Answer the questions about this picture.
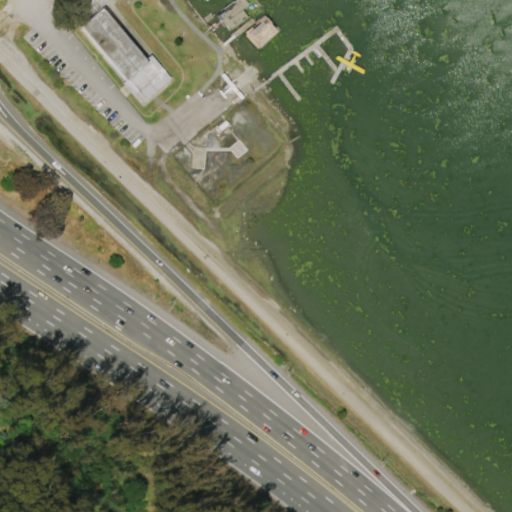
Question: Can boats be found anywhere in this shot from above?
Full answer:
Yes, the image includes a boat.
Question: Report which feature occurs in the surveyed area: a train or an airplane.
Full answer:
It is an airplane that can be seen here.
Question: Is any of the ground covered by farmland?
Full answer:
No, the picture contains no farmland.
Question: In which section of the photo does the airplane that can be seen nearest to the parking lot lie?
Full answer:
You can find the airplane that can be seen nearest to the parking lot in the top area of the picture.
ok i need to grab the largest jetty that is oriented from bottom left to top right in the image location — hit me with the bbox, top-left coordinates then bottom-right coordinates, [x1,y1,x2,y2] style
[254,26,356,102]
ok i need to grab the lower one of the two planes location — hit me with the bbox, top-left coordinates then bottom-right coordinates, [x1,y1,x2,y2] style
[220,72,246,100]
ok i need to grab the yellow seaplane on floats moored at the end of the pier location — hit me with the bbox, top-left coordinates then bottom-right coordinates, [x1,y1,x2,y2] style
[335,50,366,74]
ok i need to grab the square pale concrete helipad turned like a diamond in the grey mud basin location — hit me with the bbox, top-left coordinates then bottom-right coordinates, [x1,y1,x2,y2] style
[230,140,249,159]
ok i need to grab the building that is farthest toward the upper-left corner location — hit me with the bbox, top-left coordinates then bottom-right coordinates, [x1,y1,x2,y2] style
[82,8,173,105]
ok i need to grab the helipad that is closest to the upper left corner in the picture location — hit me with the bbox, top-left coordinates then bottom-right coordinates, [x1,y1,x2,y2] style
[186,143,207,170]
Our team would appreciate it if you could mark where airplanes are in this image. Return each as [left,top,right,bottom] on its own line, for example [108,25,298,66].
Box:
[335,50,366,74]
[220,72,246,100]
